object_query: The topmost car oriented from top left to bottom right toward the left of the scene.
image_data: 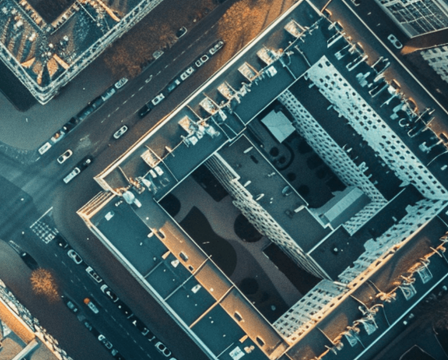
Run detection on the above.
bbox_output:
[55,234,70,250]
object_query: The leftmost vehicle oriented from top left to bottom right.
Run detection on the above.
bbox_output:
[22,253,37,270]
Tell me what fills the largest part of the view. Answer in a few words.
buildings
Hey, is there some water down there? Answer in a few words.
No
